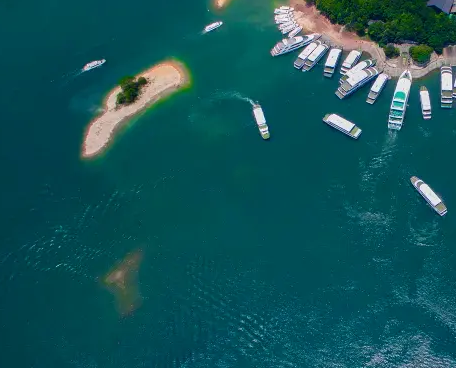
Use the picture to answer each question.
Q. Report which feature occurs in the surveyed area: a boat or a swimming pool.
boat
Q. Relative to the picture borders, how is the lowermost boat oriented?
on a diagonal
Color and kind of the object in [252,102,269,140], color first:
white boat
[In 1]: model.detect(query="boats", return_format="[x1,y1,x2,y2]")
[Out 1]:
[366,73,392,104]
[323,46,344,77]
[204,21,223,32]
[336,68,384,100]
[270,33,321,57]
[304,43,331,71]
[294,38,321,68]
[82,61,106,71]
[279,21,296,29]
[340,59,378,84]
[274,8,289,14]
[411,176,448,216]
[276,17,294,23]
[274,12,292,19]
[282,24,298,33]
[252,102,269,140]
[420,85,432,119]
[288,27,302,37]
[440,66,453,107]
[324,115,362,138]
[339,49,361,73]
